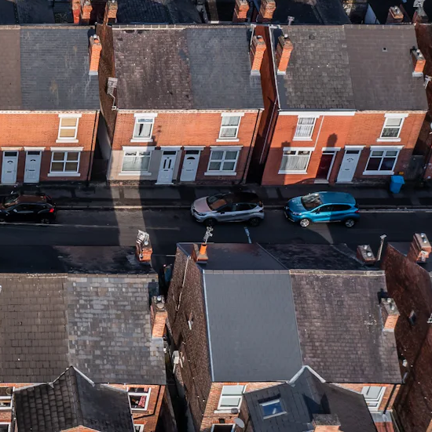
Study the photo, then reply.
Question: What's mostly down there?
buildings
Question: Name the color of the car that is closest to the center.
black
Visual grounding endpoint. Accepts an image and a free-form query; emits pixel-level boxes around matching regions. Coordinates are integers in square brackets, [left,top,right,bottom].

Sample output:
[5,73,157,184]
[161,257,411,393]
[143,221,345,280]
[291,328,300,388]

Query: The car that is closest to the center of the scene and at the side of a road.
[188,190,267,227]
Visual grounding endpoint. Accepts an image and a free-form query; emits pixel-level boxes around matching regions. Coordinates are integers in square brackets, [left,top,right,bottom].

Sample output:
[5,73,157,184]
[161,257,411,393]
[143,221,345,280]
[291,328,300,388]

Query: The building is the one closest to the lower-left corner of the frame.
[0,212,168,432]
